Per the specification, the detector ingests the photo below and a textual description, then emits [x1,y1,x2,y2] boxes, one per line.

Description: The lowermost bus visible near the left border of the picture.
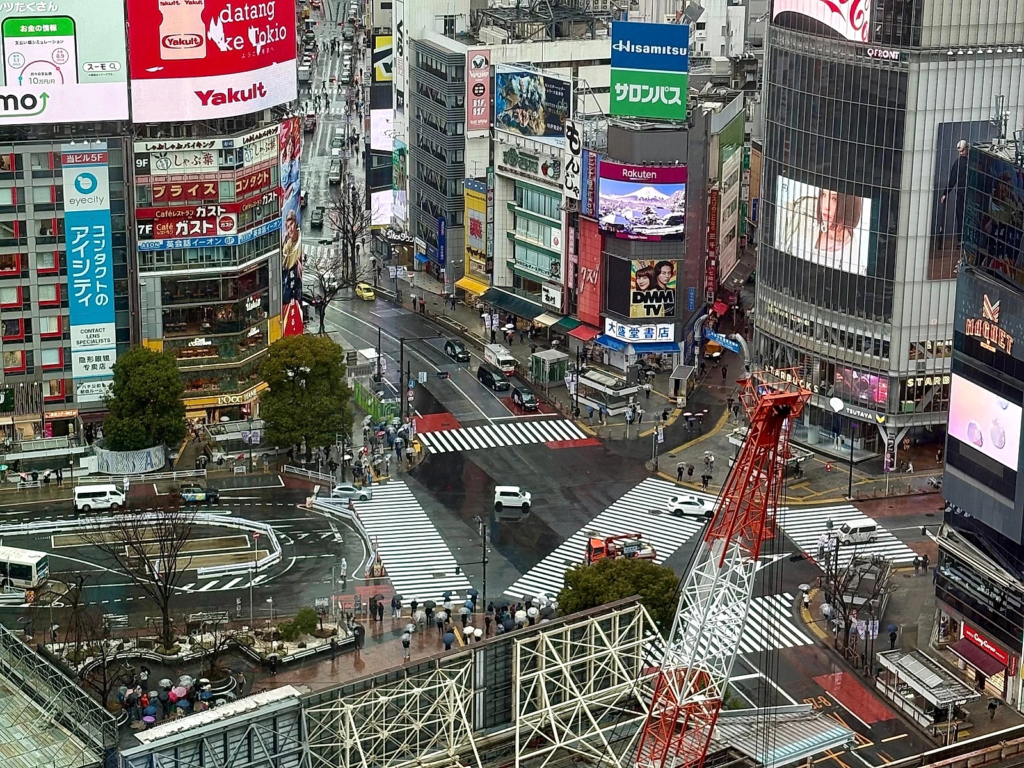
[0,541,51,589]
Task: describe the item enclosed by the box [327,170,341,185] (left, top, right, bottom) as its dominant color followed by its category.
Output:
gray car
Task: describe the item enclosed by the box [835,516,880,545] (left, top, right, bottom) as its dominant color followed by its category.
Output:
white van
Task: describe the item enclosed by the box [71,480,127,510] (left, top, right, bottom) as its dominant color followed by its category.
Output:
white van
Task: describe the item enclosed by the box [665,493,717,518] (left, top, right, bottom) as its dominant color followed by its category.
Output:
white car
